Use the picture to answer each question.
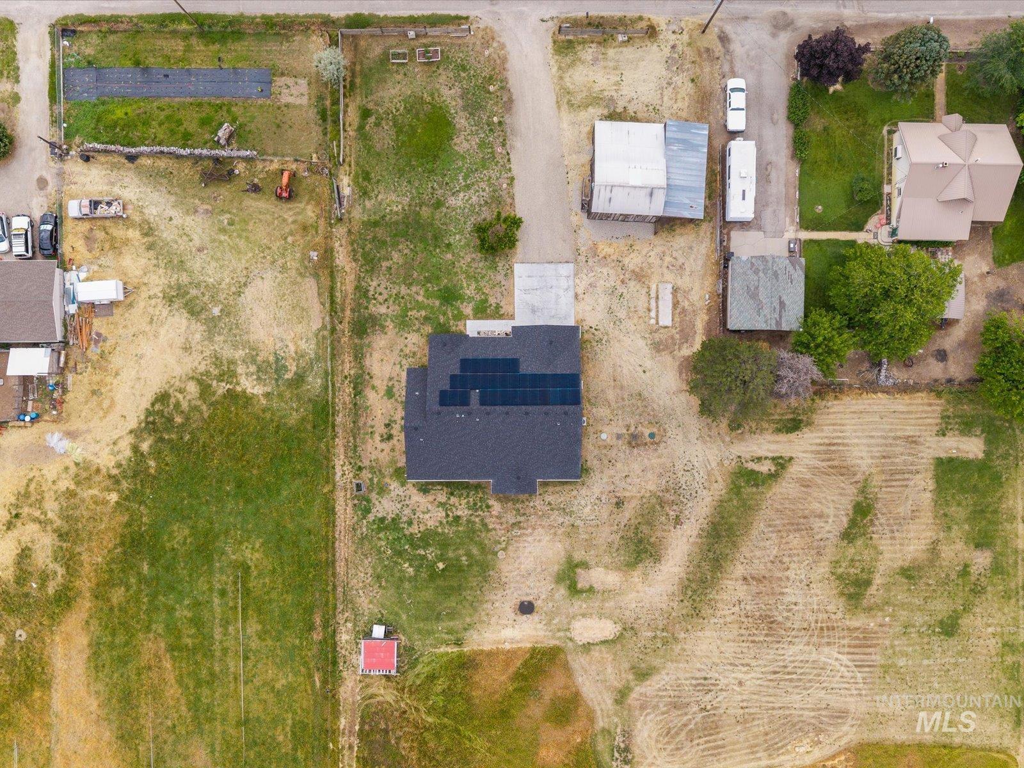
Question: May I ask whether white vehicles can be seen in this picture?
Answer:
Yes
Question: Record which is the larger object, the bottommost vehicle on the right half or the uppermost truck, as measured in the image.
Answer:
the vehicle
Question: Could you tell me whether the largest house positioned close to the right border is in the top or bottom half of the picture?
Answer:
top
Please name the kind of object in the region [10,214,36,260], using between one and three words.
car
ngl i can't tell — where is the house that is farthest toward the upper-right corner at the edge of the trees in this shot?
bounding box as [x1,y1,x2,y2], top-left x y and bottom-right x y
[889,113,1023,241]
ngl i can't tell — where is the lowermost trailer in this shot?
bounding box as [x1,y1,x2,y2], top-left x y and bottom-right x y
[74,280,136,304]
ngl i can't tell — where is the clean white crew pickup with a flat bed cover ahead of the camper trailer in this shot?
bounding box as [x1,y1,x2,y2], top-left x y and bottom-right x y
[724,79,748,135]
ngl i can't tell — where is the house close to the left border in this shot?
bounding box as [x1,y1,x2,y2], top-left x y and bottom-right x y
[0,259,71,343]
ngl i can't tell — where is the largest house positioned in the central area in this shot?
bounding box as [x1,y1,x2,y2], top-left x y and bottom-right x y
[405,326,582,494]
